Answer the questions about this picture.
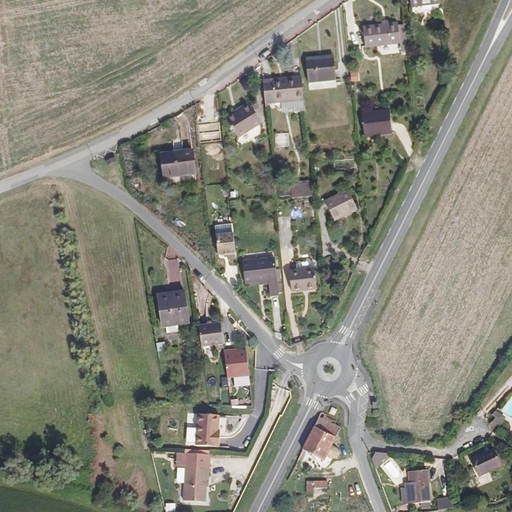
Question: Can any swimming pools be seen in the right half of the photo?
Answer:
Yes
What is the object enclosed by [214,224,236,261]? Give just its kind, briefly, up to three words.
house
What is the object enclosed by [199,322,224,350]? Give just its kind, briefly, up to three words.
house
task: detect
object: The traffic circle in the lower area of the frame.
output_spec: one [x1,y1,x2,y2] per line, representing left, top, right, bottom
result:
[300,342,358,398]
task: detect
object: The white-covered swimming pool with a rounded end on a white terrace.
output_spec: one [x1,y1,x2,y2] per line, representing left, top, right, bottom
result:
[380,456,406,487]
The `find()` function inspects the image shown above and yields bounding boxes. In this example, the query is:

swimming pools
[502,394,512,413]
[380,456,406,487]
